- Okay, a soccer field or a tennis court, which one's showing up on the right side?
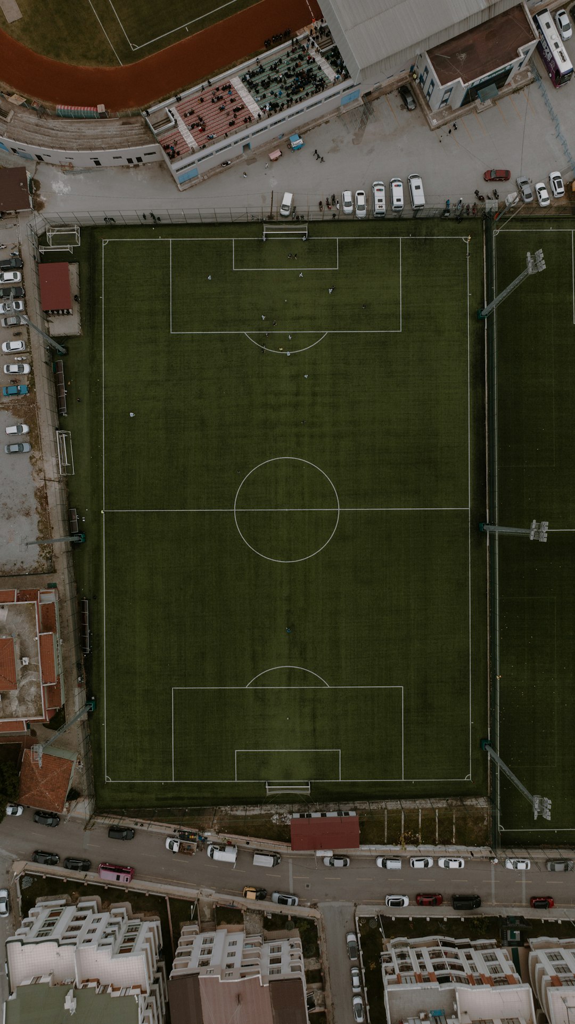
soccer field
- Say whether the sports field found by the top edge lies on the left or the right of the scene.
left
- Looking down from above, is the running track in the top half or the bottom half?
top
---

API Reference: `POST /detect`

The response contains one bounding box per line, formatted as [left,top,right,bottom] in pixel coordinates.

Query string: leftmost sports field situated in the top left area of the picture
[0,0,261,67]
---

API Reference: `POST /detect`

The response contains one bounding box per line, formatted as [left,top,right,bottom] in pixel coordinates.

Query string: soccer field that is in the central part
[39,219,489,803]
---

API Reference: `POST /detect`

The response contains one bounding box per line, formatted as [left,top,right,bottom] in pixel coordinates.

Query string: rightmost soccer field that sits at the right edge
[498,216,575,849]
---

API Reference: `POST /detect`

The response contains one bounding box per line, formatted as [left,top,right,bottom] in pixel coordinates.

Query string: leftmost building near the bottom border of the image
[4,896,174,1024]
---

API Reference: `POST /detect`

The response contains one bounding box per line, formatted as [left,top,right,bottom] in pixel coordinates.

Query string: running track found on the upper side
[0,0,337,111]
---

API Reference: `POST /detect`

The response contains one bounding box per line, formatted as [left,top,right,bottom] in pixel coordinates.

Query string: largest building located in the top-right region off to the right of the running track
[412,5,541,131]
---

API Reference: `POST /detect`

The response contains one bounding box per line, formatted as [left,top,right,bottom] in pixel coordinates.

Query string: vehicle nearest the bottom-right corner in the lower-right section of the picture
[530,895,555,910]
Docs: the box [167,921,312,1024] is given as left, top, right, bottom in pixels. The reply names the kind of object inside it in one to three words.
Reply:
building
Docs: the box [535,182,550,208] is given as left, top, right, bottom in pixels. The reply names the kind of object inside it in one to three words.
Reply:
car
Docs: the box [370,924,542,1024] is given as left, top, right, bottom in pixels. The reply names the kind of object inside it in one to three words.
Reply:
building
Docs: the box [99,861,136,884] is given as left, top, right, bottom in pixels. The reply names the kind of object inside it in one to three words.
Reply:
vehicle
